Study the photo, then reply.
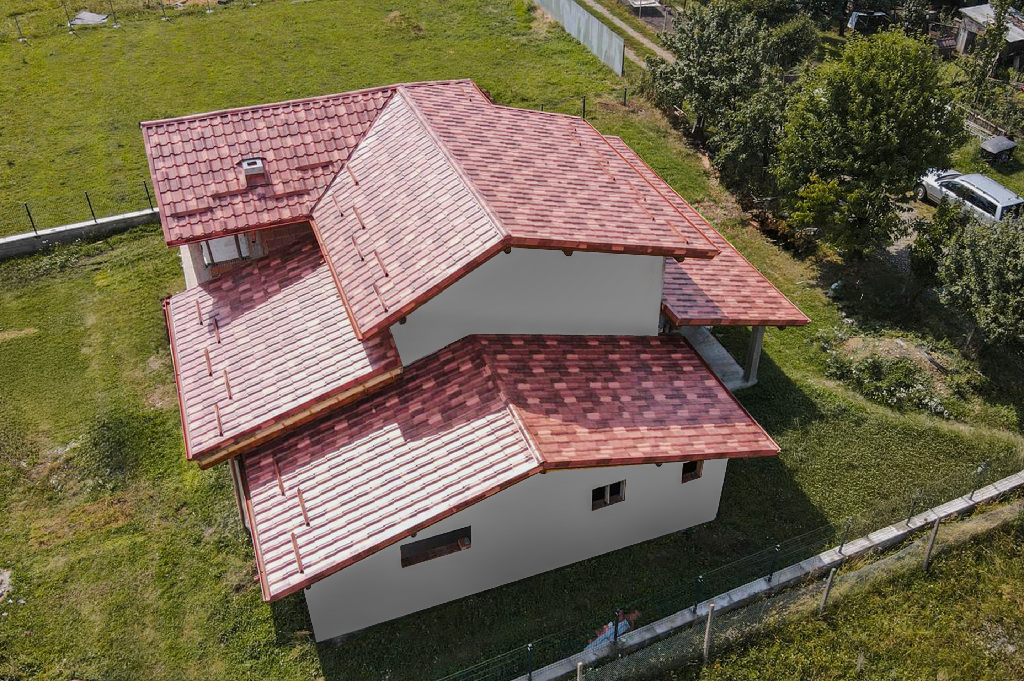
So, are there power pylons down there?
No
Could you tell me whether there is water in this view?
No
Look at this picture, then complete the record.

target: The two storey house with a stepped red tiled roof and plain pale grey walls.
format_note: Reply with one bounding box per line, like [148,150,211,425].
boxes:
[141,75,812,643]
